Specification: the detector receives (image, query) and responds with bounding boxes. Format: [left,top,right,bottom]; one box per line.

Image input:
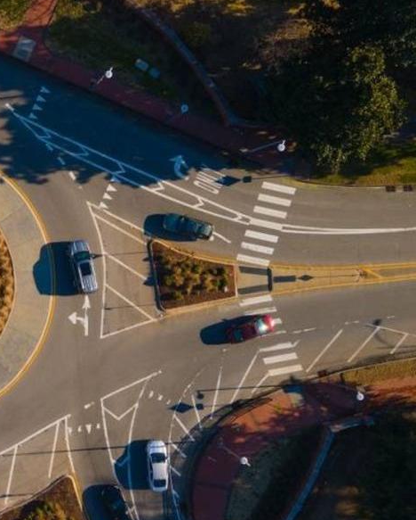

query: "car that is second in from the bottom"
[143,439,170,492]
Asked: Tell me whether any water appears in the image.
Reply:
No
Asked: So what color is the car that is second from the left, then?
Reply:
black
